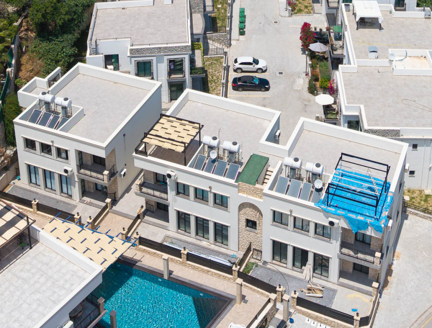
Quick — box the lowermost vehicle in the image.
[233,75,270,92]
